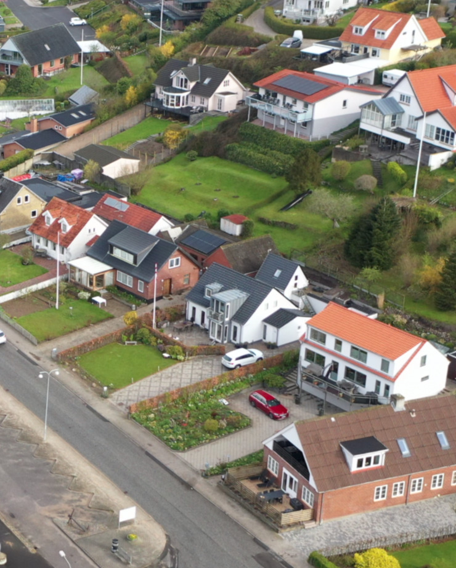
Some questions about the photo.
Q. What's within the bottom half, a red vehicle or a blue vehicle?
red vehicle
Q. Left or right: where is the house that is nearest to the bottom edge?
right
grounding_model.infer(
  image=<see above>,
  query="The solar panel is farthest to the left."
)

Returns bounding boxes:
[102,195,130,210]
